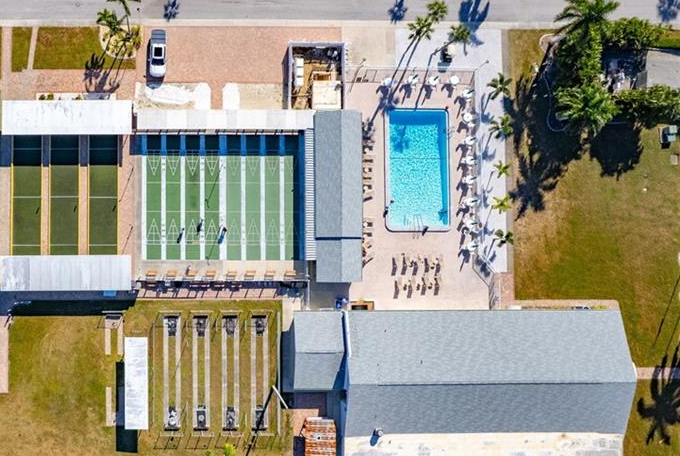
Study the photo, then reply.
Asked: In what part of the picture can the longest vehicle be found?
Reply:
top left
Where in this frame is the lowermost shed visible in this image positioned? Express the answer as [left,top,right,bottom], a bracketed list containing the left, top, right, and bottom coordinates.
[301,417,336,456]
